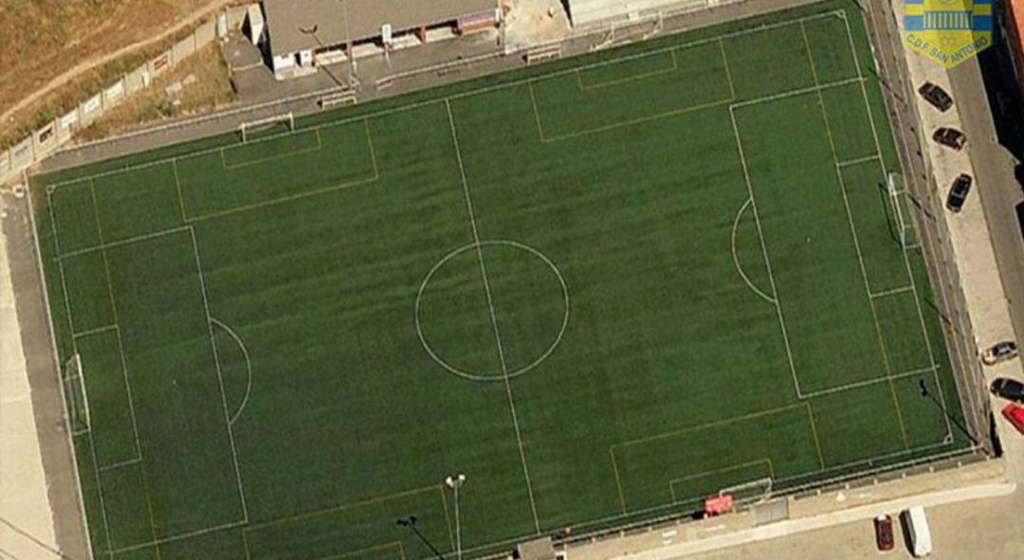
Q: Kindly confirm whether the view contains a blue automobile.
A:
No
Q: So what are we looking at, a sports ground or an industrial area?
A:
sports ground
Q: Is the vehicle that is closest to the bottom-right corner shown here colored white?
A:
Yes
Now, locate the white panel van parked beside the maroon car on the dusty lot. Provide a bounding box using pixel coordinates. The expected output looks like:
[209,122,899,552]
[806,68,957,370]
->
[907,513,929,560]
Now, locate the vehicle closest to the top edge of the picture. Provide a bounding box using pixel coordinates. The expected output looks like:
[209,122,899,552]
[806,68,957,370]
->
[919,80,954,109]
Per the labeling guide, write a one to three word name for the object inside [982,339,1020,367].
car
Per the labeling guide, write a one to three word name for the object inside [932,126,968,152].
car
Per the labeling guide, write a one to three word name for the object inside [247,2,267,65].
shed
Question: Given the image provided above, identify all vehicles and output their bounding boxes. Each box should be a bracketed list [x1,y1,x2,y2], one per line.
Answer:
[990,378,1024,406]
[947,175,971,212]
[907,513,929,560]
[982,339,1020,367]
[919,80,954,109]
[1005,408,1024,433]
[875,515,893,550]
[932,126,968,152]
